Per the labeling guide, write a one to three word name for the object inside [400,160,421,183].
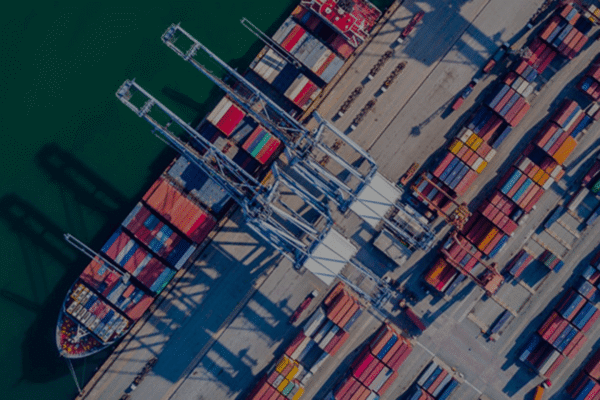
work vehicle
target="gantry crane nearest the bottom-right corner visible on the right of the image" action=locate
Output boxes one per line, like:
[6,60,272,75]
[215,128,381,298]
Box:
[430,234,501,293]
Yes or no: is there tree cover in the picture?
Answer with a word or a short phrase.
No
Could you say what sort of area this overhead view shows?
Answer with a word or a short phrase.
port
